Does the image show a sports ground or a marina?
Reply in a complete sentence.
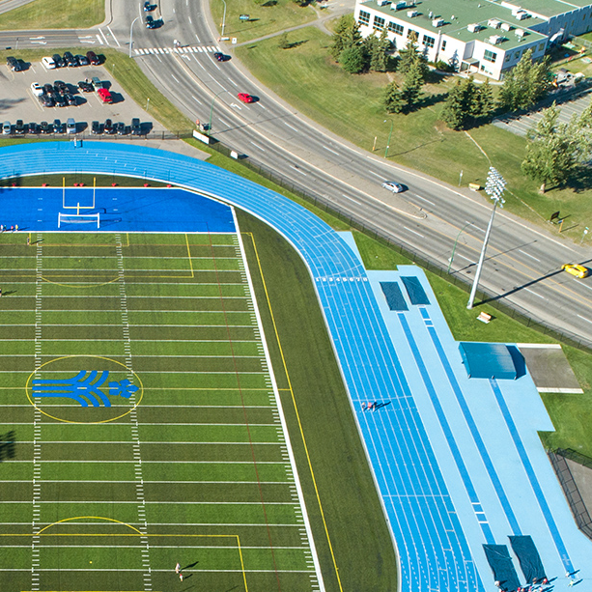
This looks like a sports ground.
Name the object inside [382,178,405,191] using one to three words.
vehicle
